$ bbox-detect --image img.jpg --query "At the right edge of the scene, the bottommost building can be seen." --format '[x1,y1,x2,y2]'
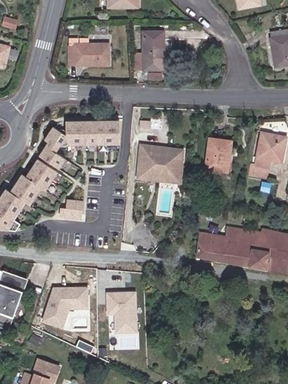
[198,224,288,274]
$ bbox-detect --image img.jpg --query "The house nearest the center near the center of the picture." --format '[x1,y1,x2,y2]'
[136,140,185,184]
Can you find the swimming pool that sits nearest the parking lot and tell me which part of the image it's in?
center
